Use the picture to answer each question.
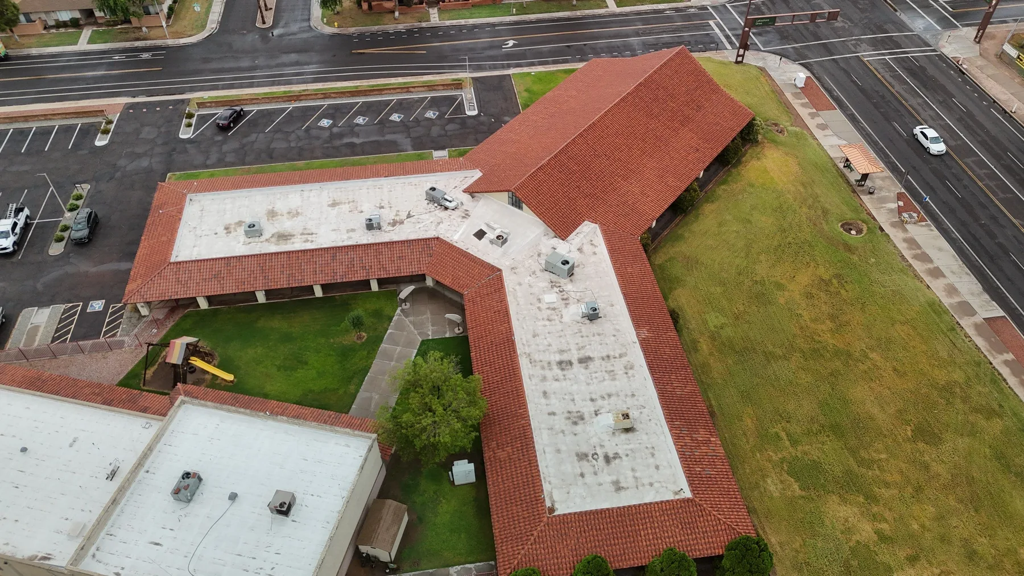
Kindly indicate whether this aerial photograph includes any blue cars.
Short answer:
No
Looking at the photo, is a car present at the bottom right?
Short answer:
No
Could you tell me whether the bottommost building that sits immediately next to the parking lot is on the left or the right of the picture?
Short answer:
left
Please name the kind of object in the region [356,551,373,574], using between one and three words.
work vehicle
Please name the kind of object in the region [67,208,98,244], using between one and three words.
car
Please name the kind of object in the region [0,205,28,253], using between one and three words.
truck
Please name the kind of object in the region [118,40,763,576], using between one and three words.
church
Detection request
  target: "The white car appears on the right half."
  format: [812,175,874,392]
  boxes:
[915,126,949,153]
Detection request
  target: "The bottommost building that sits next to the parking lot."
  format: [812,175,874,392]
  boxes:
[0,360,402,576]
